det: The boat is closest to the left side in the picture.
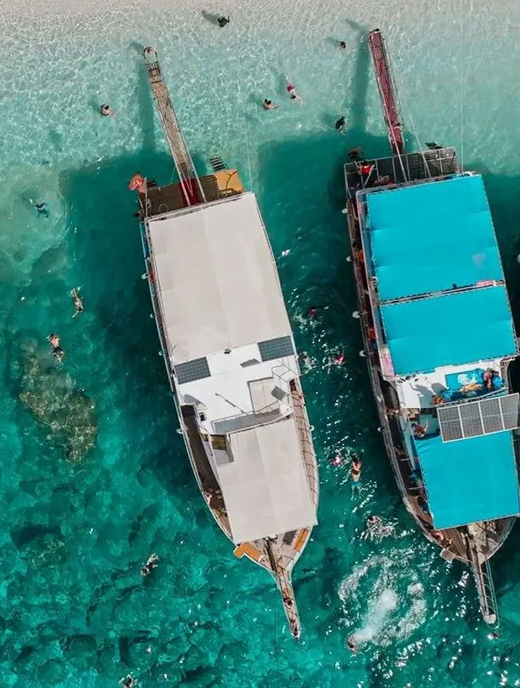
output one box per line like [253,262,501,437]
[134,48,319,640]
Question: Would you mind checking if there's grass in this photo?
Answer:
No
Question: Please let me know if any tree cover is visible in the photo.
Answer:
No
